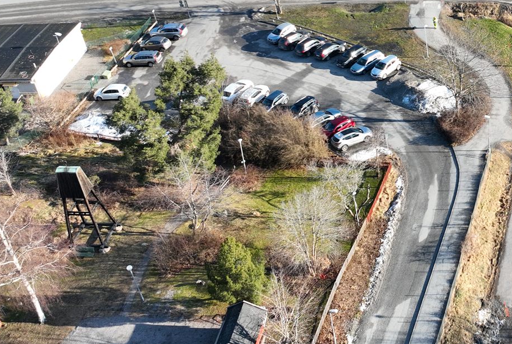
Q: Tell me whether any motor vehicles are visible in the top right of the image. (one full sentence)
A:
Yes, there is a motor vehicle in the top right of the image.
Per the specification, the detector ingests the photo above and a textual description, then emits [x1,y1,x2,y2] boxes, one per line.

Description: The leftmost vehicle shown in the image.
[91,84,132,102]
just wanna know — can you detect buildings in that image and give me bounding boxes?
[213,300,268,344]
[0,22,85,104]
[54,162,127,253]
